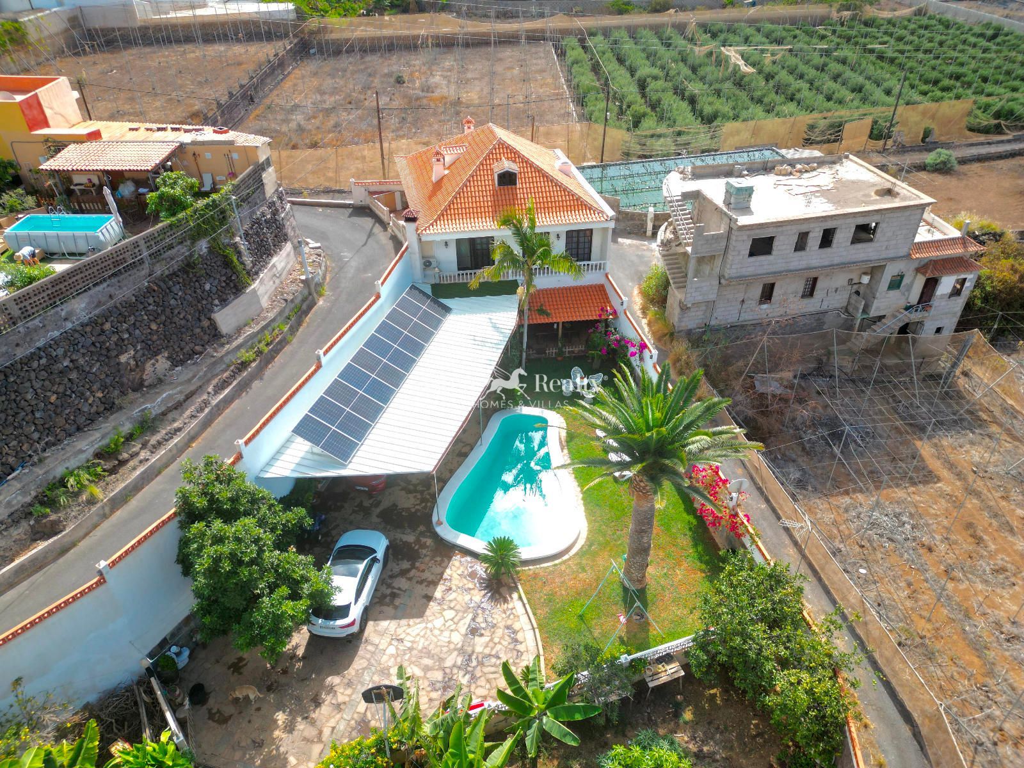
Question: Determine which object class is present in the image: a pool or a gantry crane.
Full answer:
Of the two, only a pool appears.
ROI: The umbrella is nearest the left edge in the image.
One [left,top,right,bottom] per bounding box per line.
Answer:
[103,186,125,232]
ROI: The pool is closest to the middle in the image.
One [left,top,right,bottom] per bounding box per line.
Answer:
[432,407,586,565]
